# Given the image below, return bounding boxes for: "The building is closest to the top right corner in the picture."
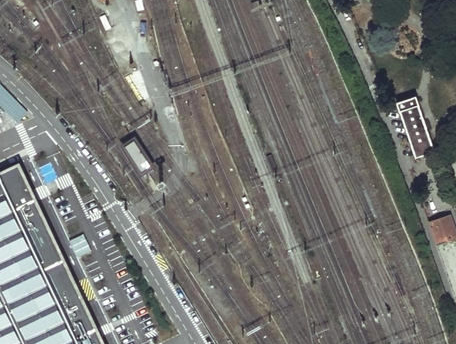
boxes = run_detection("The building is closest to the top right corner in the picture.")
[397,97,434,160]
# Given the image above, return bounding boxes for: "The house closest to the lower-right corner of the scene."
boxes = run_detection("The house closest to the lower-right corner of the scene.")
[429,216,456,244]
